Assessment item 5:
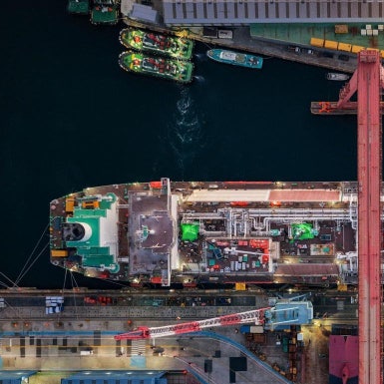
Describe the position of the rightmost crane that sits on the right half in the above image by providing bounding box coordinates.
[318,49,384,384]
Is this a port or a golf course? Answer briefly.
port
